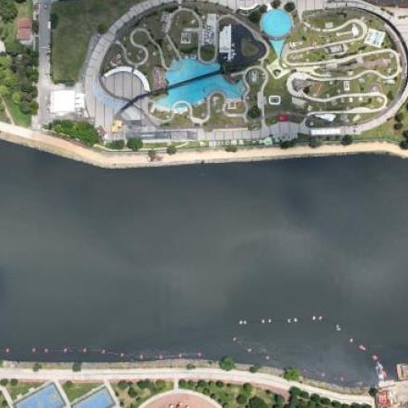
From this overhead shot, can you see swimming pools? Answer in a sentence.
Yes, a swimming pool can be made out from above.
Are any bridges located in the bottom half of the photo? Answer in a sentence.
No, I see no bridge in the bottom half of the photo.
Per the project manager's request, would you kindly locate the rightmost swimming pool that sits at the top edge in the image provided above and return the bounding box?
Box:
[260,5,293,57]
